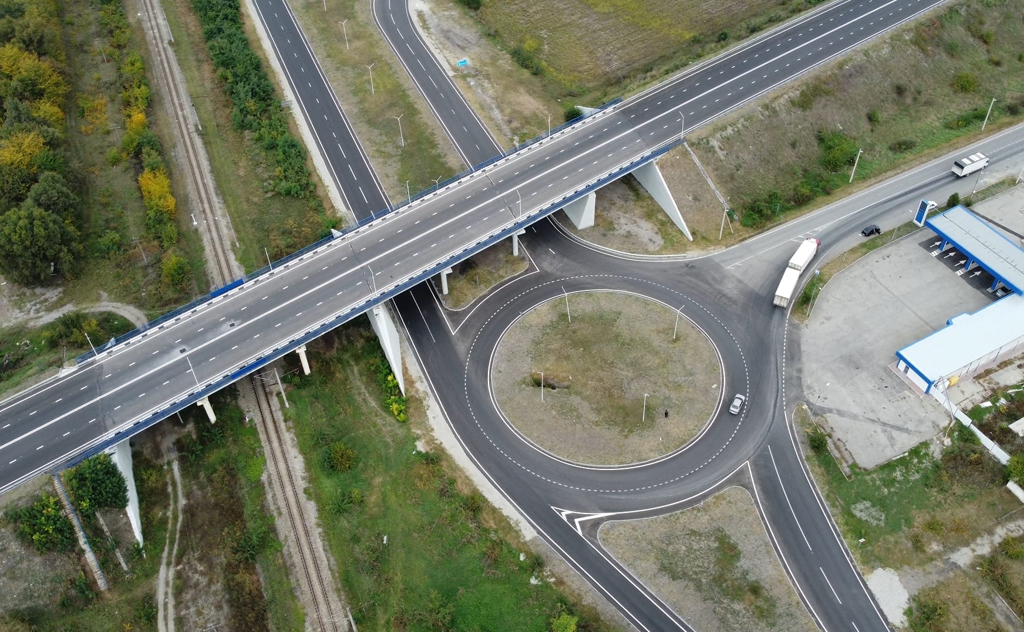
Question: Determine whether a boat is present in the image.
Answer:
No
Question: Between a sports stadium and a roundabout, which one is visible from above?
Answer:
roundabout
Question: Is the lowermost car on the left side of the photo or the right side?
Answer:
right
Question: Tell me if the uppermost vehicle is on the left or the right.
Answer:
right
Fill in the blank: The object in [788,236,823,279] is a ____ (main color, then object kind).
white truck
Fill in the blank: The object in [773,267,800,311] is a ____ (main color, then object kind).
white trailer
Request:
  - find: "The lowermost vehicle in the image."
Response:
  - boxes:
[727,392,747,418]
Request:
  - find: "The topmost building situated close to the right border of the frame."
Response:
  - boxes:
[893,292,1024,394]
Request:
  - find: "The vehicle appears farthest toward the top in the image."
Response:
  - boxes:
[954,153,986,175]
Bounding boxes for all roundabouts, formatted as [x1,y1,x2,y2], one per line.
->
[432,249,806,545]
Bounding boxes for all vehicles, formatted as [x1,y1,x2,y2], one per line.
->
[860,224,883,238]
[727,392,747,418]
[954,153,986,175]
[788,236,823,279]
[996,282,1019,297]
[926,199,941,210]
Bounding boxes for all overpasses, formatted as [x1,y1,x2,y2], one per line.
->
[75,94,696,567]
